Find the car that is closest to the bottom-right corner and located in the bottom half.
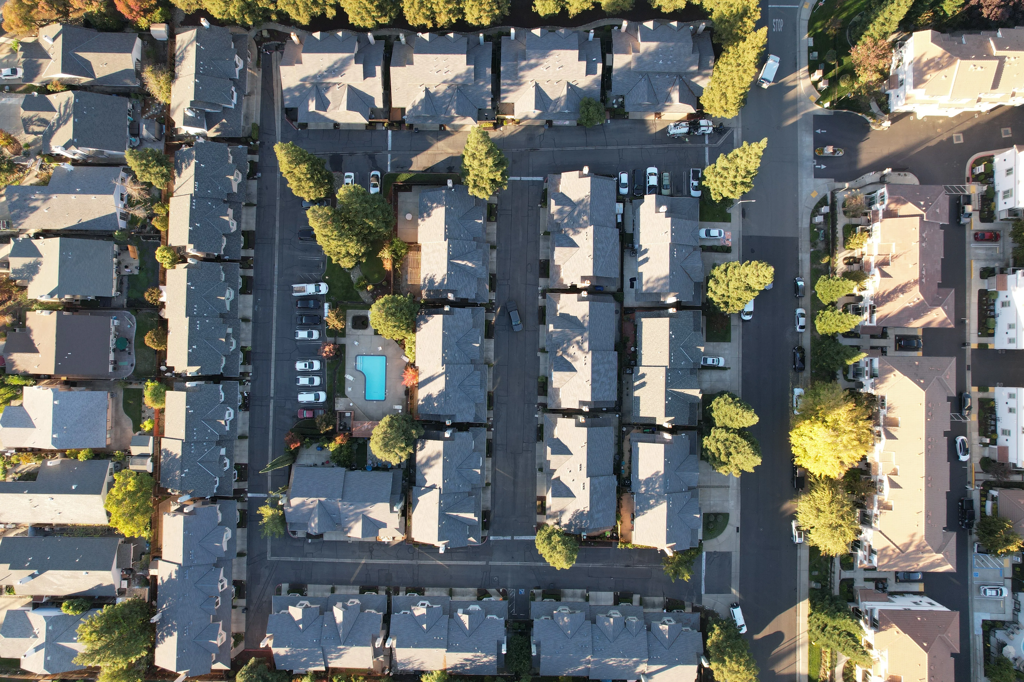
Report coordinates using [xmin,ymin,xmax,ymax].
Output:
[980,585,1007,599]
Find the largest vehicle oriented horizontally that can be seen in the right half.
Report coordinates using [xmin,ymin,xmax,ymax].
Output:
[663,118,720,137]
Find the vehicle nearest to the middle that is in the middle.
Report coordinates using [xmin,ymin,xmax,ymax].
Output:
[506,300,522,332]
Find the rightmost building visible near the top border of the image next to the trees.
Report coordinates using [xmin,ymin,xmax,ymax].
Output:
[885,30,1024,113]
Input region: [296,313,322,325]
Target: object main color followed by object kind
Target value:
black vehicle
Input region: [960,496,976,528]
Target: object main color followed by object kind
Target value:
black vehicle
